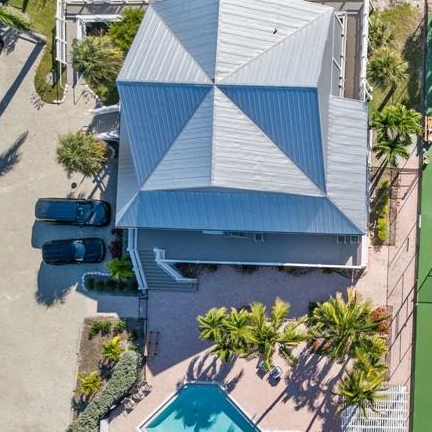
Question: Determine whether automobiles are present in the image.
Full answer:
Yes, there is an automobile in the image.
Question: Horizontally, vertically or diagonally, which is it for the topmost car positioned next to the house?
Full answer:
From this overhead view, the topmost car positioned next to the house appears to run horizontally.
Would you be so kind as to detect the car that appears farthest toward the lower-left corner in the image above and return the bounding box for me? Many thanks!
[42,235,111,268]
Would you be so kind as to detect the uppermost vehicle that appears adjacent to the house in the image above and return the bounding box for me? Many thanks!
[33,195,115,230]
